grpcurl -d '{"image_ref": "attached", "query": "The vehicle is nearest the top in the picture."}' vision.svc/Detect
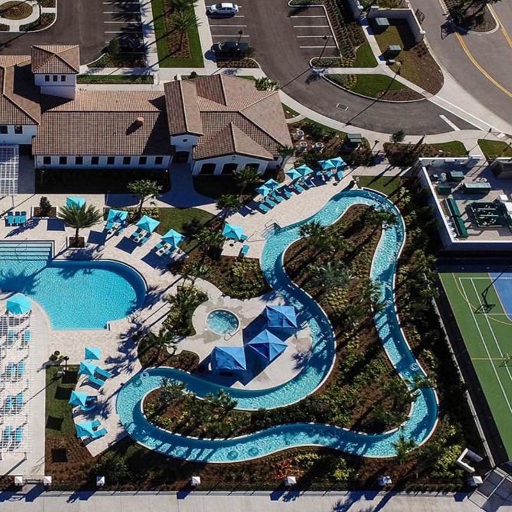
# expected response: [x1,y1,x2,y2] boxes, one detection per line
[208,2,240,16]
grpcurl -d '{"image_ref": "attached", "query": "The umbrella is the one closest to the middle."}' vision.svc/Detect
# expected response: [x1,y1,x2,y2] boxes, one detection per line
[225,224,243,242]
